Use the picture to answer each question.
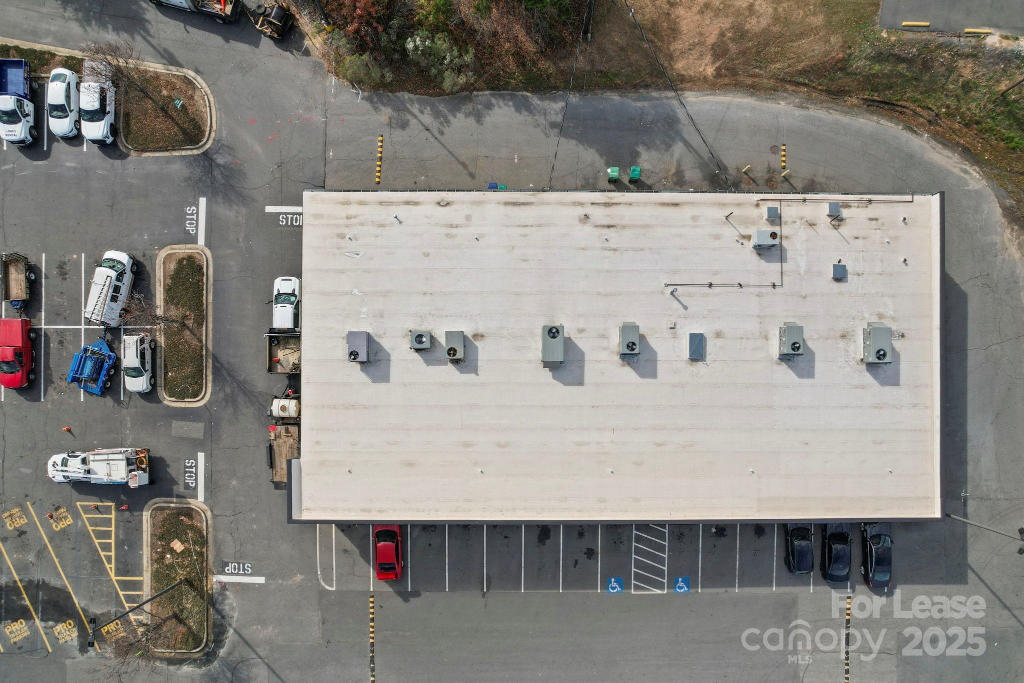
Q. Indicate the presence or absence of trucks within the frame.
Yes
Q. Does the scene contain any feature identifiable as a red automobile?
Yes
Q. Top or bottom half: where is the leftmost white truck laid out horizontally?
bottom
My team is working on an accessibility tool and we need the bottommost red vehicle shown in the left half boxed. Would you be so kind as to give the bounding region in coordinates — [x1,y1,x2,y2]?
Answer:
[371,524,403,580]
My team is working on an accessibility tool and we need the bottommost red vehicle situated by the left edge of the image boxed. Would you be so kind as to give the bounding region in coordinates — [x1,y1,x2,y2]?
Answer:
[0,316,36,392]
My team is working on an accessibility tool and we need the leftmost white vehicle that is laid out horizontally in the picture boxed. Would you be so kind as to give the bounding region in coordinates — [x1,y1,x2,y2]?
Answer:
[42,450,152,494]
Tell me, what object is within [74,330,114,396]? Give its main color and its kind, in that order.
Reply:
blue trailer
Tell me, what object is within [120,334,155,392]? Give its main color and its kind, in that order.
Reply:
white car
